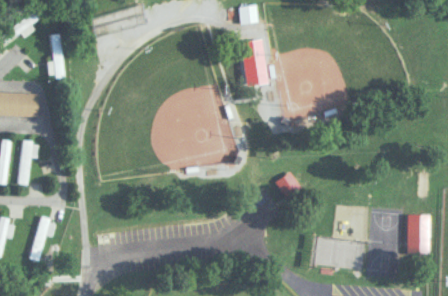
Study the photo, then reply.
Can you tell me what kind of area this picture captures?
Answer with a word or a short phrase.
sports ground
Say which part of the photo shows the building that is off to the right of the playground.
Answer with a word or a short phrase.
bottom right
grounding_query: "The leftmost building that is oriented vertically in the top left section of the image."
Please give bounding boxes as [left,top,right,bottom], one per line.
[48,34,66,79]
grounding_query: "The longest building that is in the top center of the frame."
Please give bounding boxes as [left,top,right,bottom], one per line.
[244,38,270,86]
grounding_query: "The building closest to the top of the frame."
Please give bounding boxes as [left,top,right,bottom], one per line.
[238,2,259,25]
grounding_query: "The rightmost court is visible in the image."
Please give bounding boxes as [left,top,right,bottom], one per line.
[368,208,402,274]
